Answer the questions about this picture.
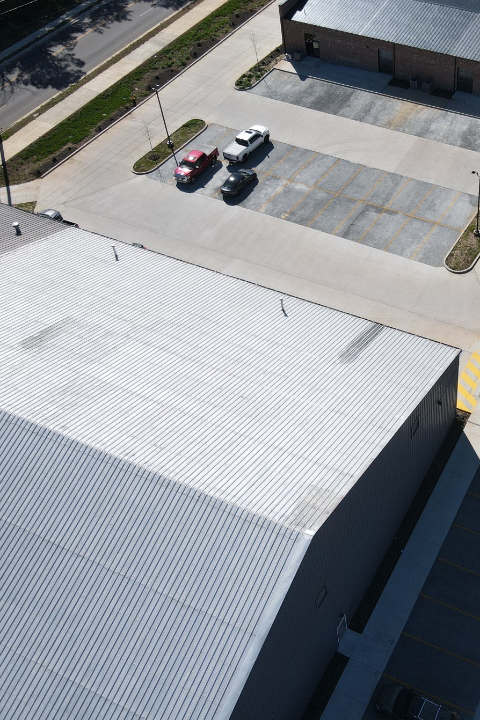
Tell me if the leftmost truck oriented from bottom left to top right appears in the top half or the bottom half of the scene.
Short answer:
top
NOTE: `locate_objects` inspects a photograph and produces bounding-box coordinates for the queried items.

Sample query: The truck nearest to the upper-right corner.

[223,126,271,161]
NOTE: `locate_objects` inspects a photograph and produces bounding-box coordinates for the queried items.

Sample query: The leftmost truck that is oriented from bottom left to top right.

[170,145,220,185]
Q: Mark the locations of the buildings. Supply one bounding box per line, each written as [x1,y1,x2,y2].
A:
[276,0,480,94]
[0,229,463,720]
